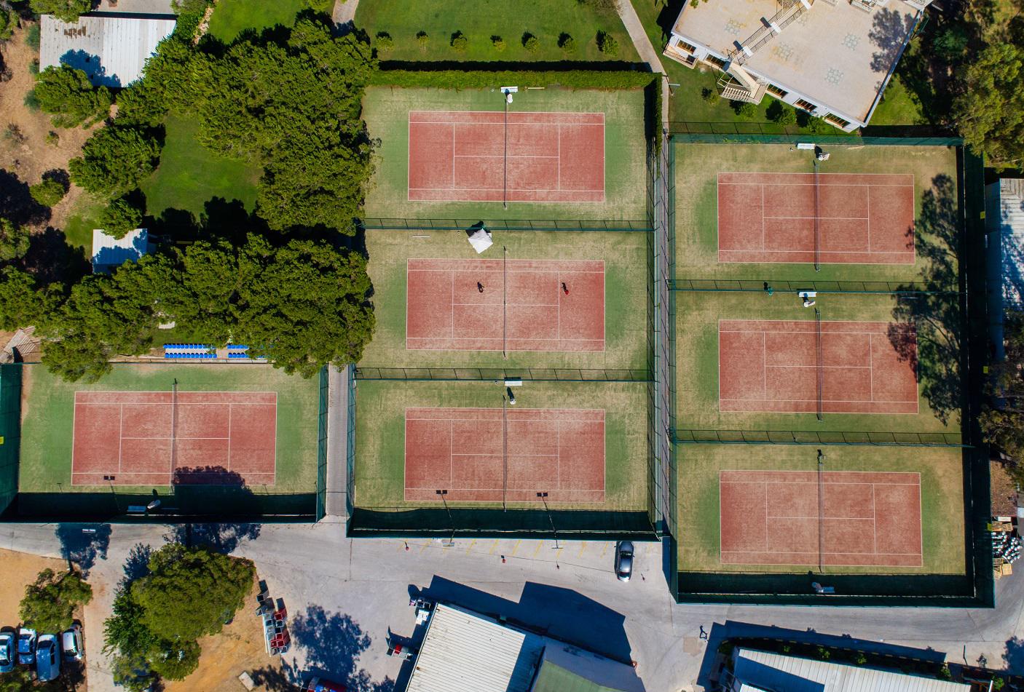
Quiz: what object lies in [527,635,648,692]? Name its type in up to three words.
building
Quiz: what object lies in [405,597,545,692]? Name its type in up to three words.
building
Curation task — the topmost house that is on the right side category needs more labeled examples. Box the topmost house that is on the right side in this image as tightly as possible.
[662,0,928,134]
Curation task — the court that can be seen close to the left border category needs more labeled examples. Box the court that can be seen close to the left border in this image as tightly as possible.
[18,364,321,516]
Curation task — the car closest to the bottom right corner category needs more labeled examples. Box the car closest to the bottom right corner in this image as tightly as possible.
[615,541,634,582]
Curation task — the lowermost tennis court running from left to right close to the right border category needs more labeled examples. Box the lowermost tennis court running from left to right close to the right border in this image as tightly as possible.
[669,442,976,597]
